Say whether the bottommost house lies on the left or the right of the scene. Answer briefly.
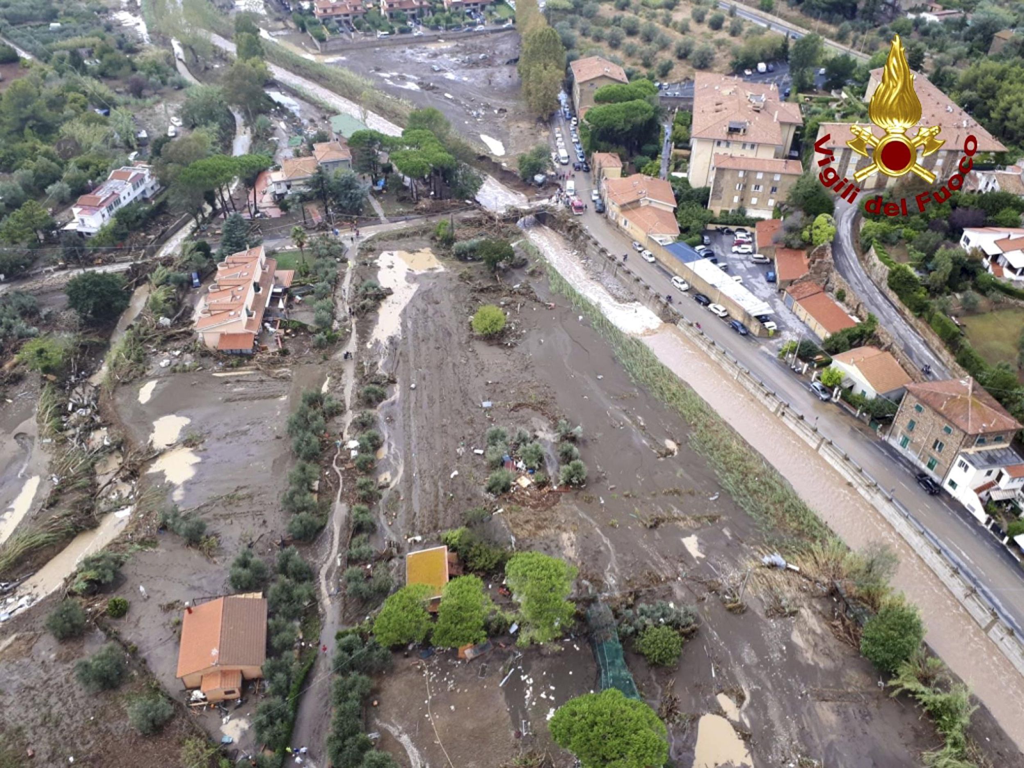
left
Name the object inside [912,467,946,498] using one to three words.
car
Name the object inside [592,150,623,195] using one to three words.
house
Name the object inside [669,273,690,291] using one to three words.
car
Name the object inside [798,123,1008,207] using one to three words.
building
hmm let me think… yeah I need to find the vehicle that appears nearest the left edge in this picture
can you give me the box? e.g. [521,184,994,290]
[51,252,69,269]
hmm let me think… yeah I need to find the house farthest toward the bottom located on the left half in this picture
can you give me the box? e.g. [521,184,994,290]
[177,591,280,703]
